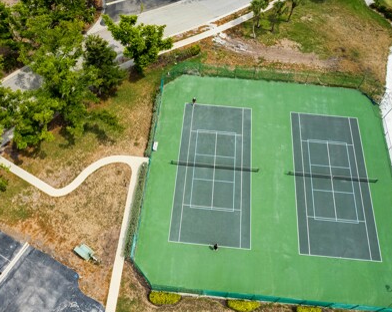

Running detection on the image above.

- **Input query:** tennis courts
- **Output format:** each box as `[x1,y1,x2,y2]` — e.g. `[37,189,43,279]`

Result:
[169,103,258,249]
[288,112,382,262]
